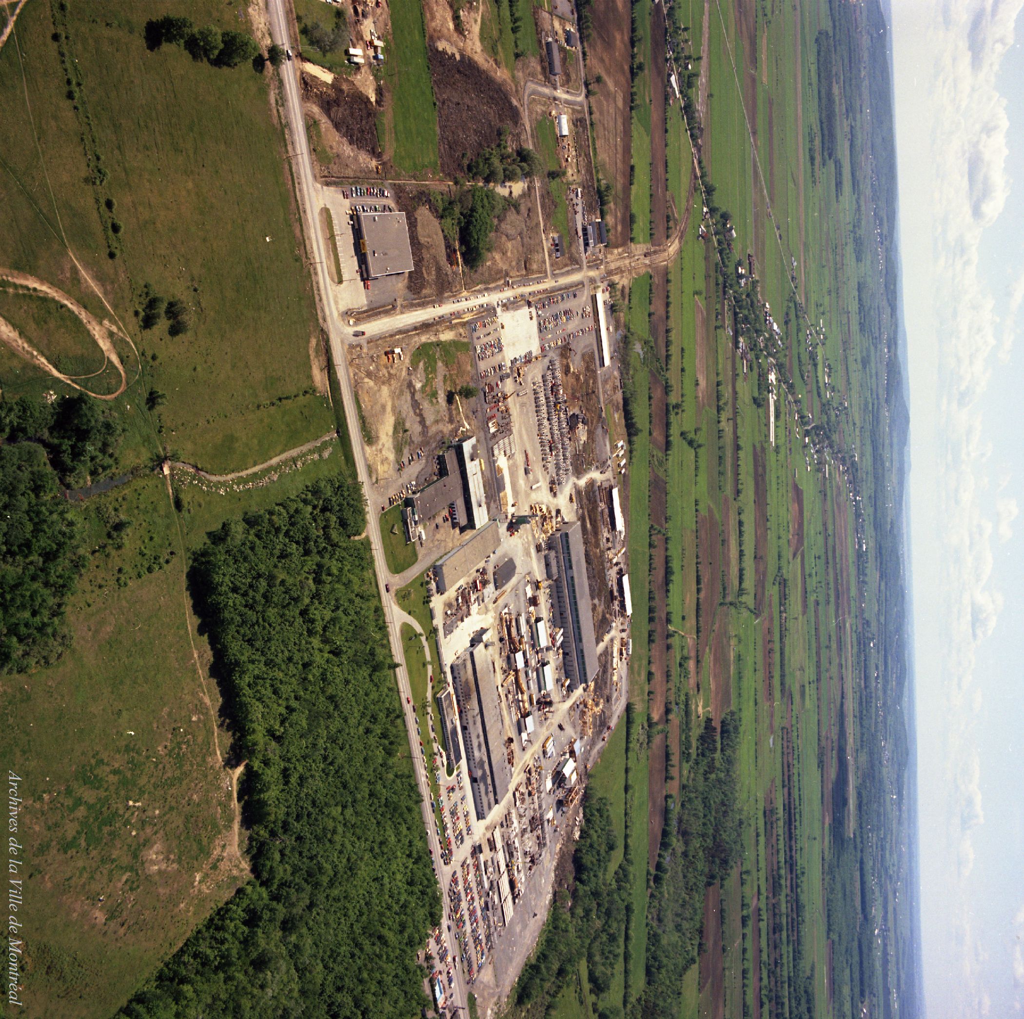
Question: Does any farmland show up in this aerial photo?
Yes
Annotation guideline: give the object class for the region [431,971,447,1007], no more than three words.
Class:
building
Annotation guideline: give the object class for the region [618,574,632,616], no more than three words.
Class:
shed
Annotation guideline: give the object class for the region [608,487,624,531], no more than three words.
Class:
shed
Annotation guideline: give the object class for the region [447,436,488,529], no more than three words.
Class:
building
